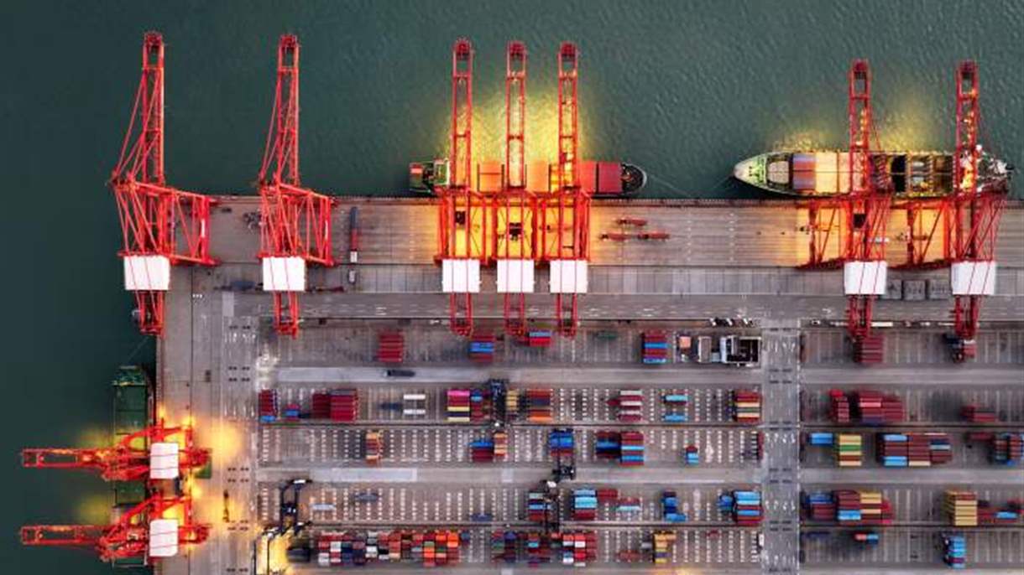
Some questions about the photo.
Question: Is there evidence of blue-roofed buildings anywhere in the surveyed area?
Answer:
No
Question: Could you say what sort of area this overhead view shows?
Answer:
port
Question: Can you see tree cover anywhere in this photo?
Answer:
No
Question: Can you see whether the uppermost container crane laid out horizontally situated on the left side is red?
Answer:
Yes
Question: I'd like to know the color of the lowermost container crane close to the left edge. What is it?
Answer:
red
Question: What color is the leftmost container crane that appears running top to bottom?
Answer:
red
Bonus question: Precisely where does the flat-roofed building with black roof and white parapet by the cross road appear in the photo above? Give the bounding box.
[718,337,764,368]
